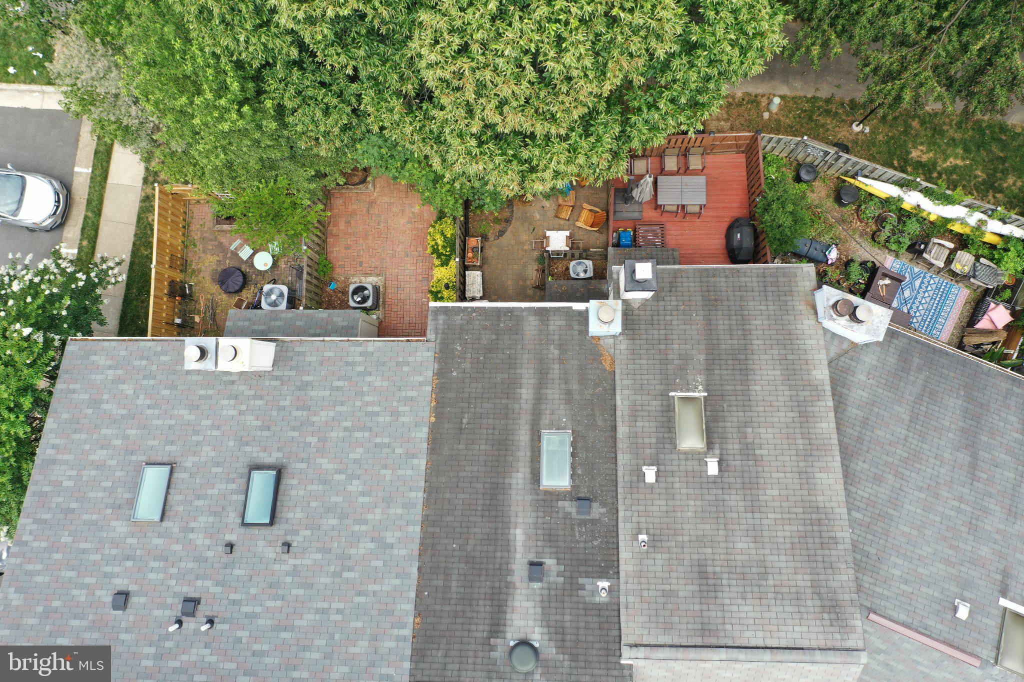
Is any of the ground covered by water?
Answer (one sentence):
No, the picture contains no water.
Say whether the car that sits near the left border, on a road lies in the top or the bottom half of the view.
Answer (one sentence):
The car that sits near the left border, on a road sits in the top half of the picture.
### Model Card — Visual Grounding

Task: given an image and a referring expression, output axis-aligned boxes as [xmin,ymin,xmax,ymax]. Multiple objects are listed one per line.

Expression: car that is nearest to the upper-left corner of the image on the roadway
[0,165,71,229]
